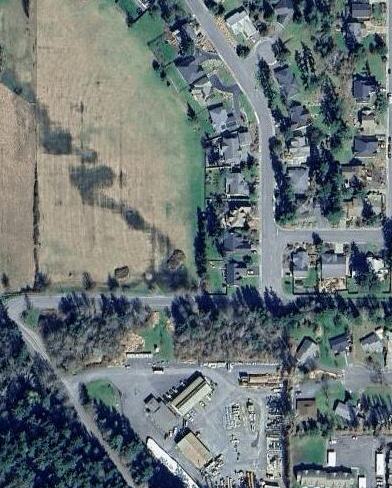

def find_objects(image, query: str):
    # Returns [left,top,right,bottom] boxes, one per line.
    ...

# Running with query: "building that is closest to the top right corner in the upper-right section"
[351,0,371,21]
